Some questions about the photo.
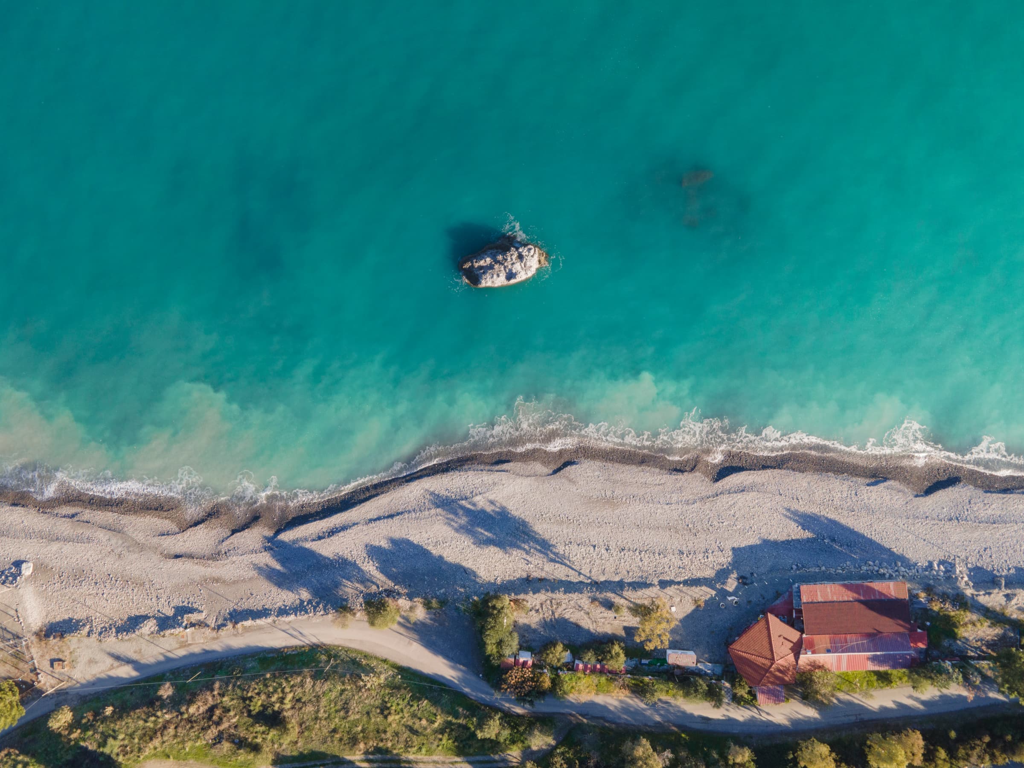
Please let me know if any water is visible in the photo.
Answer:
Yes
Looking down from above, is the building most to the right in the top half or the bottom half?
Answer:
bottom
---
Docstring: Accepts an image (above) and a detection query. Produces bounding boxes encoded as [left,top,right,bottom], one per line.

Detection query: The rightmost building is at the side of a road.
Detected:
[791,576,927,672]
